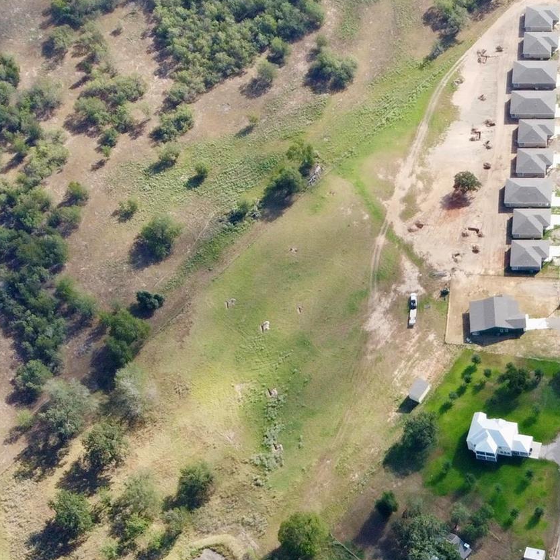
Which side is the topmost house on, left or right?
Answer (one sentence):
The topmost house appears in the right half of the scene.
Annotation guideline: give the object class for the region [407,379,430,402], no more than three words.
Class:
shed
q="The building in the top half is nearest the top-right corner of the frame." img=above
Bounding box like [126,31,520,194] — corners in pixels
[525,7,559,32]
